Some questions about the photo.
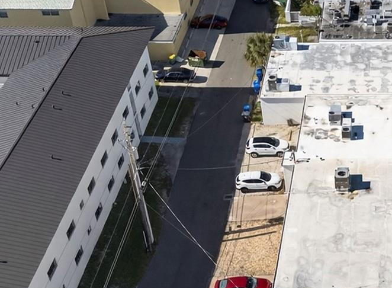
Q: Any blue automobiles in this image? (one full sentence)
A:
No, the photo shows no blue automobile.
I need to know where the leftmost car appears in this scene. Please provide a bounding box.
[154,66,200,85]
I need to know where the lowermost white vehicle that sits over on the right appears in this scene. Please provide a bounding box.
[231,167,277,194]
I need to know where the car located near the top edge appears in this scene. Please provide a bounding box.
[188,13,231,31]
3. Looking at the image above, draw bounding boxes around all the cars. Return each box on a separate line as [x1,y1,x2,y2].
[242,134,294,158]
[212,273,275,288]
[188,13,231,31]
[231,167,277,194]
[154,66,200,85]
